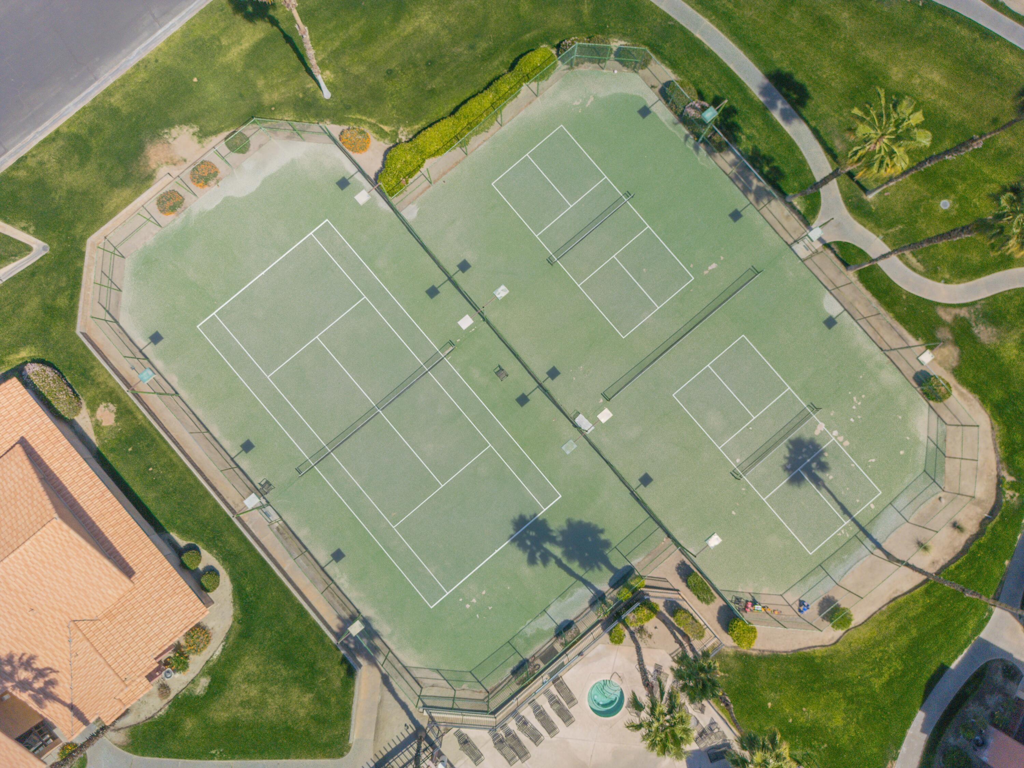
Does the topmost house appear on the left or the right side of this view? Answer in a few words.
left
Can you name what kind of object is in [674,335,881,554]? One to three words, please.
sports court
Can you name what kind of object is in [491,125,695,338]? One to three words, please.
sports court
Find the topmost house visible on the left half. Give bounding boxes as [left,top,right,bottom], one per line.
[0,377,215,742]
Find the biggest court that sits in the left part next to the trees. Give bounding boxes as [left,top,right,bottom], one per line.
[118,140,668,692]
